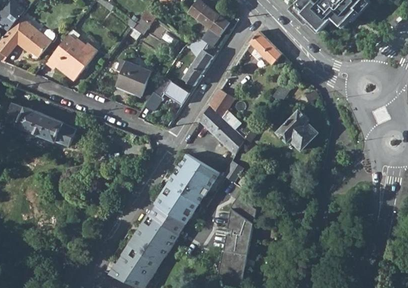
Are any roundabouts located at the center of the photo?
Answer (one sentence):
No, no roundabout appears at the center of the photo.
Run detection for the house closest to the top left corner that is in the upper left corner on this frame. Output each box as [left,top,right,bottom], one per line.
[0,0,30,31]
